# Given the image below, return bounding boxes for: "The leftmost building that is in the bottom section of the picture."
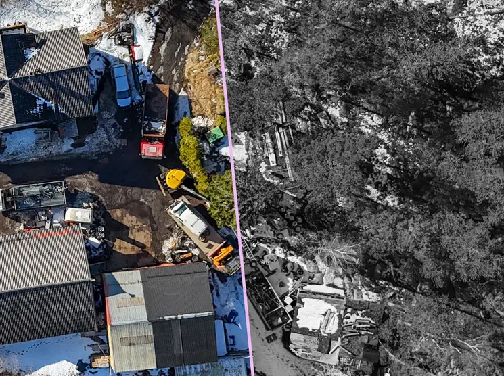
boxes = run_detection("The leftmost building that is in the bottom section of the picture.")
[0,223,97,346]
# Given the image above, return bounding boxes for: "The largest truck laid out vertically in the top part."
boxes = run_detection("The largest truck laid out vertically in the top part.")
[139,81,172,161]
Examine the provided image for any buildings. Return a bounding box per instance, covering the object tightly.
[0,223,97,346]
[0,28,92,132]
[99,263,219,373]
